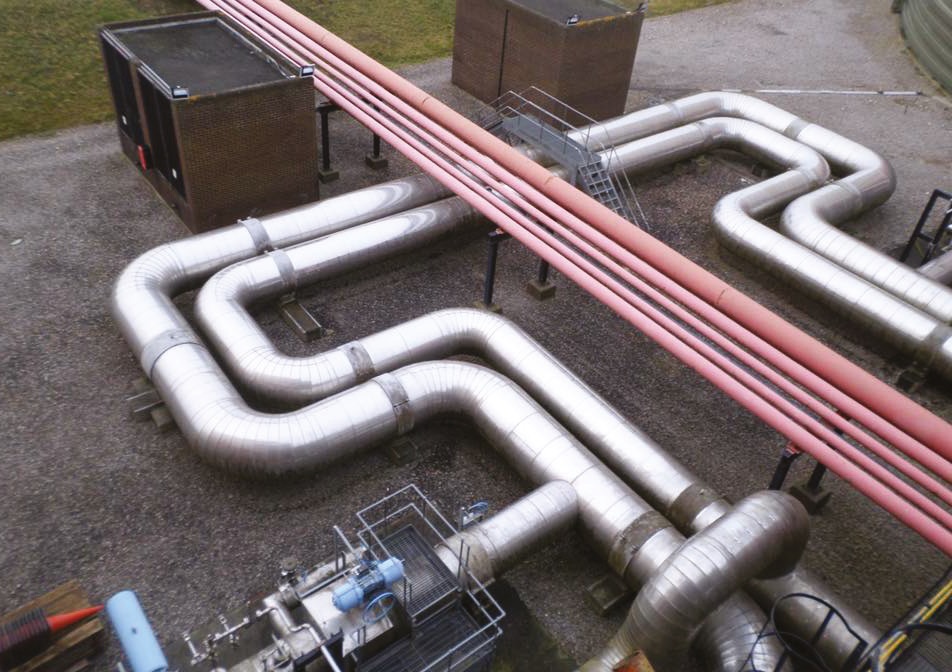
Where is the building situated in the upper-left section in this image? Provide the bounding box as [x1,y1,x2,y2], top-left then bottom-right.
[98,9,316,232]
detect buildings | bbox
[452,0,647,132]
[98,9,316,232]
